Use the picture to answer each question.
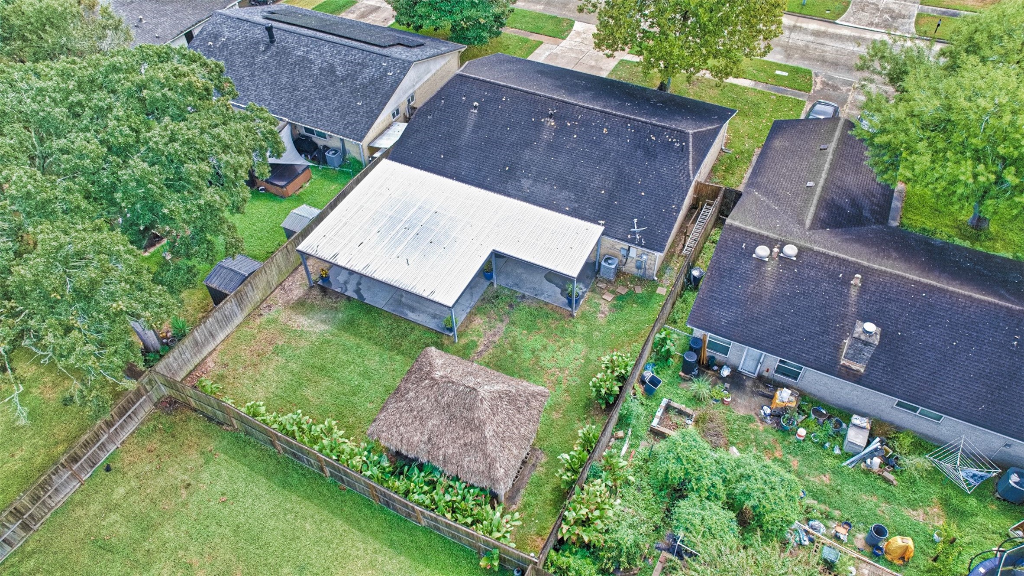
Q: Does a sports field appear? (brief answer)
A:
No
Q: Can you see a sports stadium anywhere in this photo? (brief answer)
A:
No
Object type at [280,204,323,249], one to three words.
shed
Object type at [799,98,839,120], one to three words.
car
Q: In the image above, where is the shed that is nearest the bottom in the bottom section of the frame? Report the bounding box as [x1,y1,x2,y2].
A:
[361,347,556,501]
